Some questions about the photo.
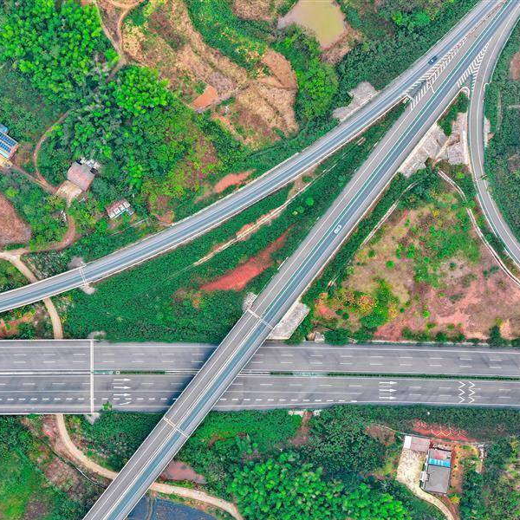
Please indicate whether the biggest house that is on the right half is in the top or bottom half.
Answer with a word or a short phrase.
bottom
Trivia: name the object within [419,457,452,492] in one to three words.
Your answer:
house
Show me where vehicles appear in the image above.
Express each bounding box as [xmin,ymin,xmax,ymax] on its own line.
[334,224,341,234]
[429,54,439,63]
